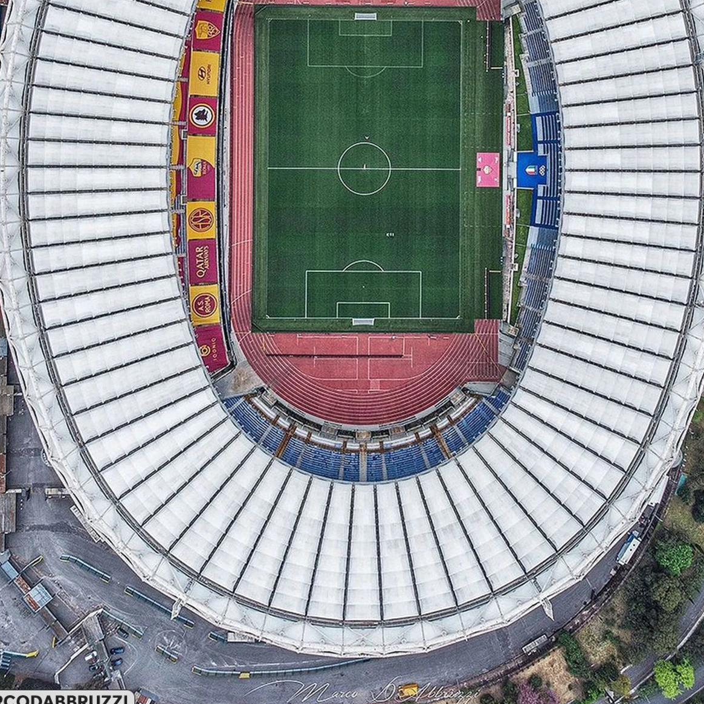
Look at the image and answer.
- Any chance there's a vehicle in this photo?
Yes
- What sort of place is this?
sports ground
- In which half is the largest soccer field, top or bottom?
top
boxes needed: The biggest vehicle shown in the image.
[614,532,642,565]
